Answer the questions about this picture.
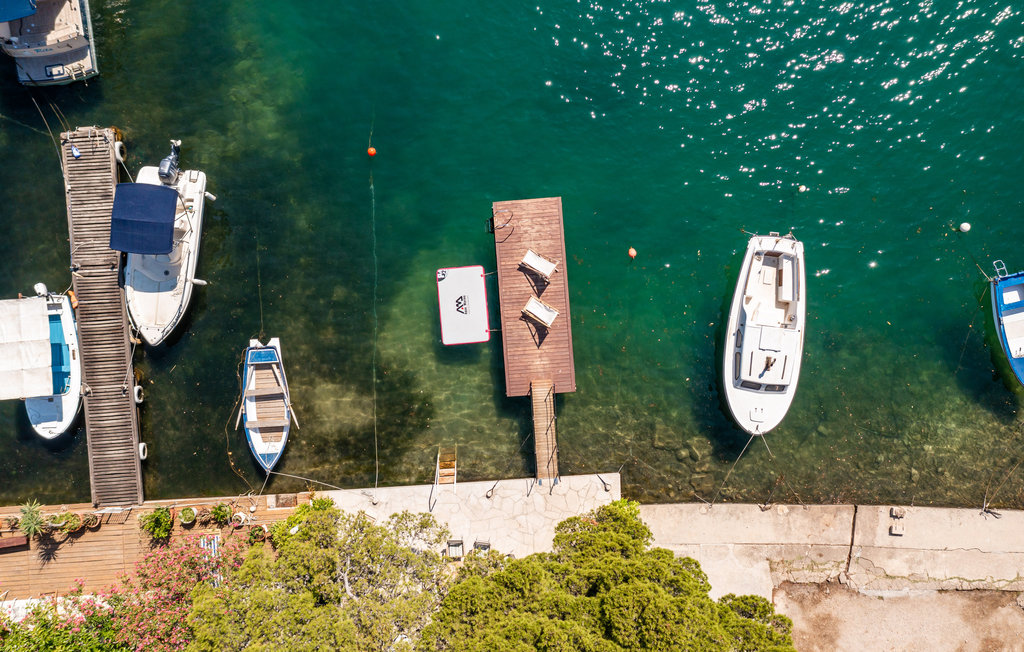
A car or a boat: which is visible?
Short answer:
boat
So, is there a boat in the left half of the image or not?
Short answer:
Yes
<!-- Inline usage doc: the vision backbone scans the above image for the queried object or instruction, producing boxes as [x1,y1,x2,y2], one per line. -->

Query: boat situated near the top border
[0,0,103,88]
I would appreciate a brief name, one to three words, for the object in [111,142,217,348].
boat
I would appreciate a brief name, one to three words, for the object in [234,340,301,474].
boat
